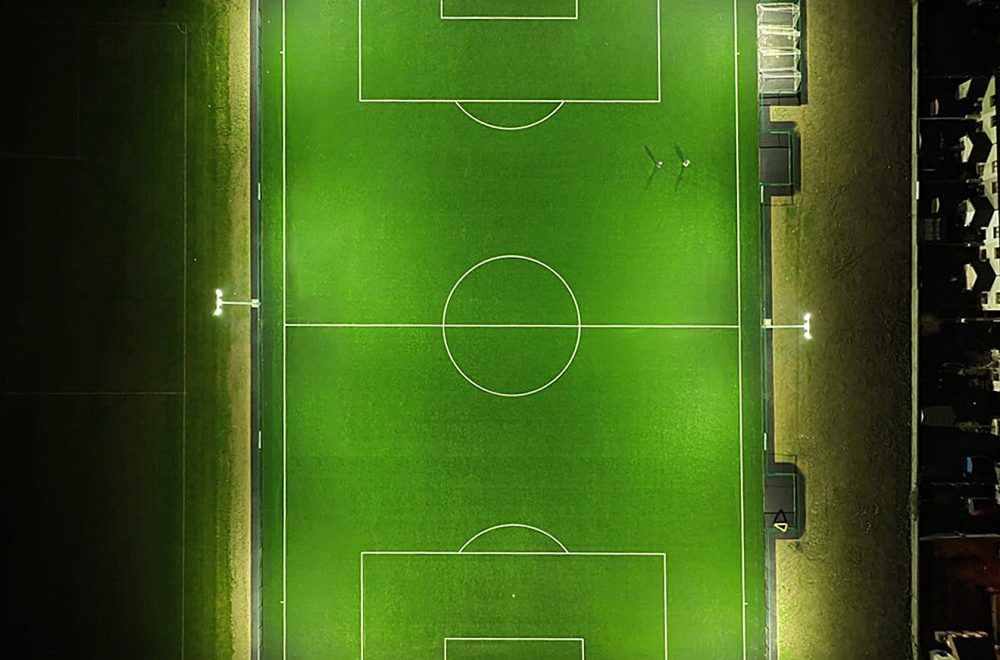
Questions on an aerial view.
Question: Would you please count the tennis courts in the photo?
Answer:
0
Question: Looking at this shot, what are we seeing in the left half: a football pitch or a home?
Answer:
football pitch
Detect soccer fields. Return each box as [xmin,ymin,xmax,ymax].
[0,22,184,660]
[261,0,768,660]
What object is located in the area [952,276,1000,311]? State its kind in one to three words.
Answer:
house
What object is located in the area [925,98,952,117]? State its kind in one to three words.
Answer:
shed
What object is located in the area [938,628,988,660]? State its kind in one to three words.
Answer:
shed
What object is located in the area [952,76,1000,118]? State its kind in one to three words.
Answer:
house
